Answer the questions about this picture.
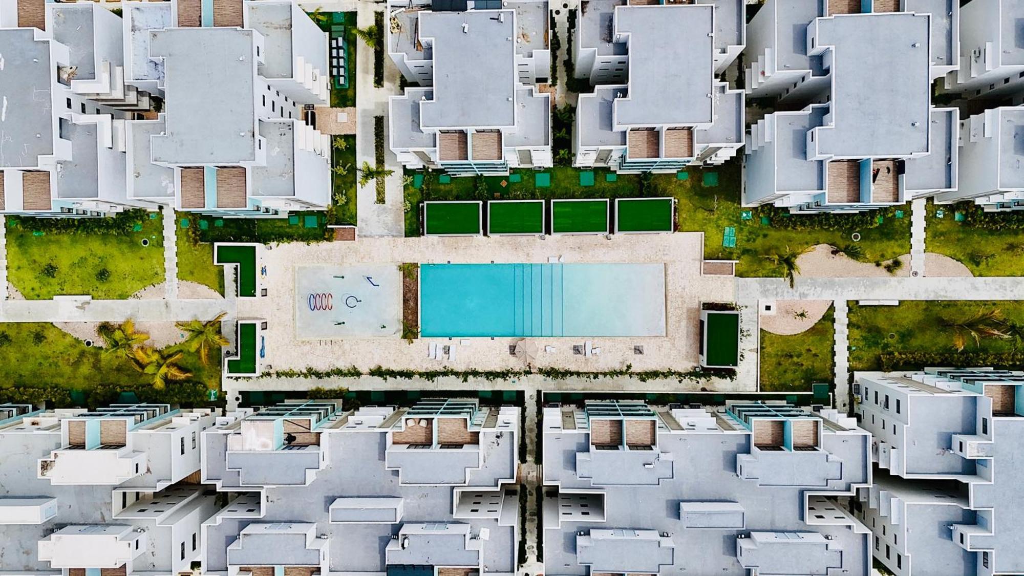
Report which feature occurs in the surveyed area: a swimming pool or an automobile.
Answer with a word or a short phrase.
swimming pool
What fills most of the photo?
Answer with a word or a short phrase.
buildings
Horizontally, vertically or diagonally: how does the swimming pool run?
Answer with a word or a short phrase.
horizontally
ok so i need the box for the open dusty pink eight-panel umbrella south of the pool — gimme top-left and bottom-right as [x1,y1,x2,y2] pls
[515,338,537,360]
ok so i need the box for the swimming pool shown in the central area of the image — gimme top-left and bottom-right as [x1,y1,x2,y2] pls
[419,261,667,338]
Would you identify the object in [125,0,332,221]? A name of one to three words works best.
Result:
building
